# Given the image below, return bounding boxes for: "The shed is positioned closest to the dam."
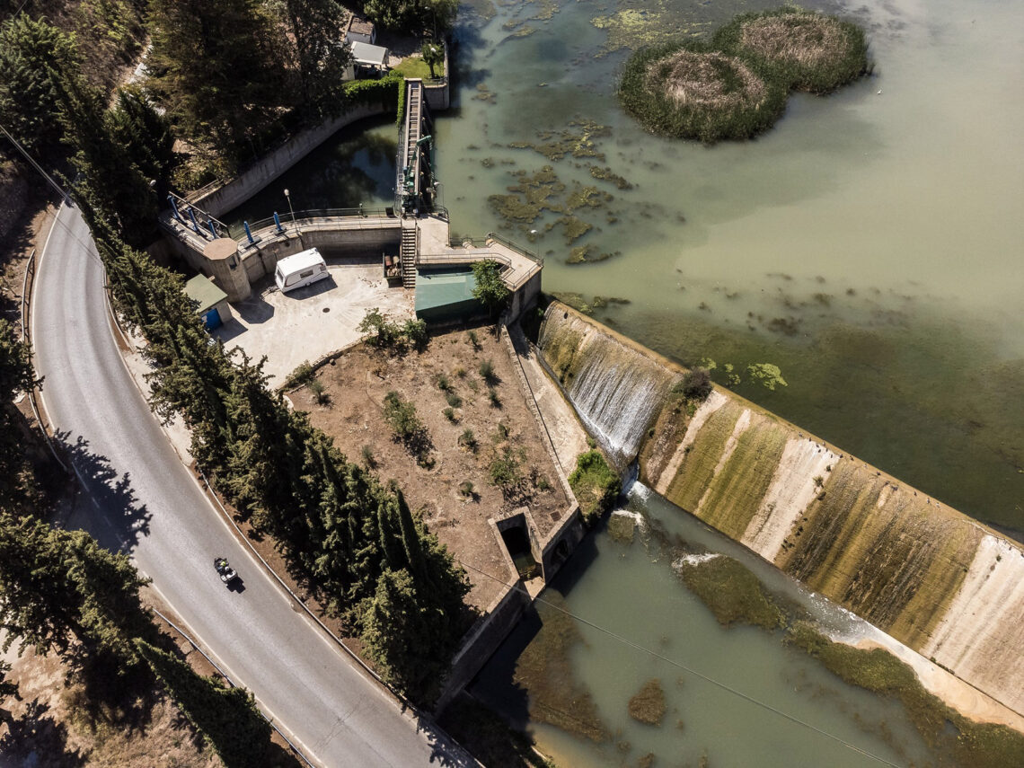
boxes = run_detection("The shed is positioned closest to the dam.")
[416,266,486,329]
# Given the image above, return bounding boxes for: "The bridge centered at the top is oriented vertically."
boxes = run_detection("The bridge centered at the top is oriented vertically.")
[399,74,429,217]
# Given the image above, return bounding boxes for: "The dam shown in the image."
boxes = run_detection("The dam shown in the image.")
[526,300,1024,708]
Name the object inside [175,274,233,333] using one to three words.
shed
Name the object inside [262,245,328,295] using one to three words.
camper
